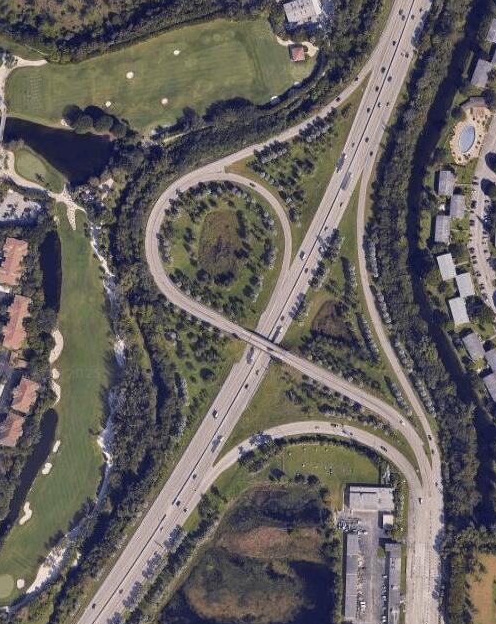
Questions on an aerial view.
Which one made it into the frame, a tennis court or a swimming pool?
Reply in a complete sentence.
Looking from above, you can make out a swimming pool.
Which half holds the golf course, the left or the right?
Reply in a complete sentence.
The golf course appears in the left half of the scene.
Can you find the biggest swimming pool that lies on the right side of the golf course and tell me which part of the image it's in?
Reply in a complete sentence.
The biggest swimming pool that lies on the right side of the golf course is in the top right part of the image.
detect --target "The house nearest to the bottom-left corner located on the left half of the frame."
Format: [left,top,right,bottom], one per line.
[1,414,23,446]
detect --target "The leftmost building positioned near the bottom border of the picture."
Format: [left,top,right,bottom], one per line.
[345,544,358,618]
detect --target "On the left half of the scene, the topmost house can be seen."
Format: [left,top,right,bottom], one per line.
[0,237,27,285]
